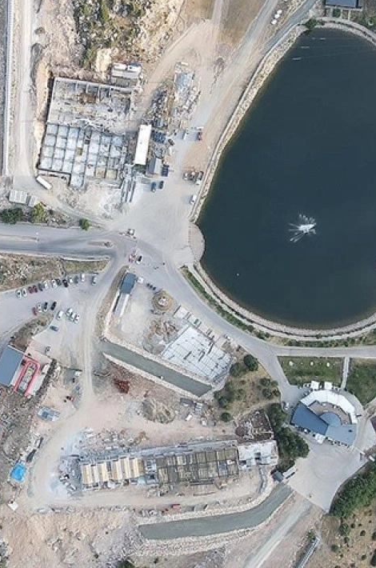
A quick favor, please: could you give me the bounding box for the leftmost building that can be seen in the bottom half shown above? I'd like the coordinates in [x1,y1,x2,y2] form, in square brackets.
[0,345,25,386]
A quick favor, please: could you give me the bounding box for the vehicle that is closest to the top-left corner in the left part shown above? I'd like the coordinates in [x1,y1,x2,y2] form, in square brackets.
[36,175,52,190]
